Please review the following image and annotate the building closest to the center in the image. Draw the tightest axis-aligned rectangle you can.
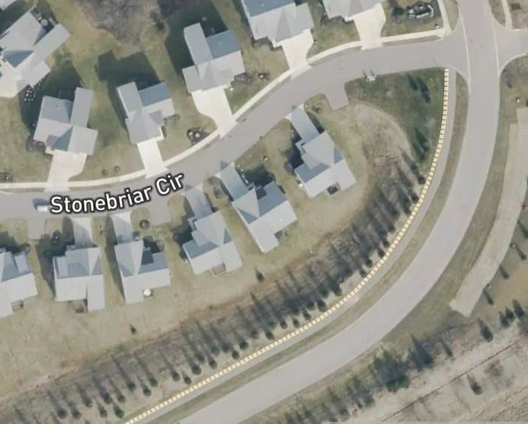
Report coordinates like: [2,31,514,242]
[229,181,297,252]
